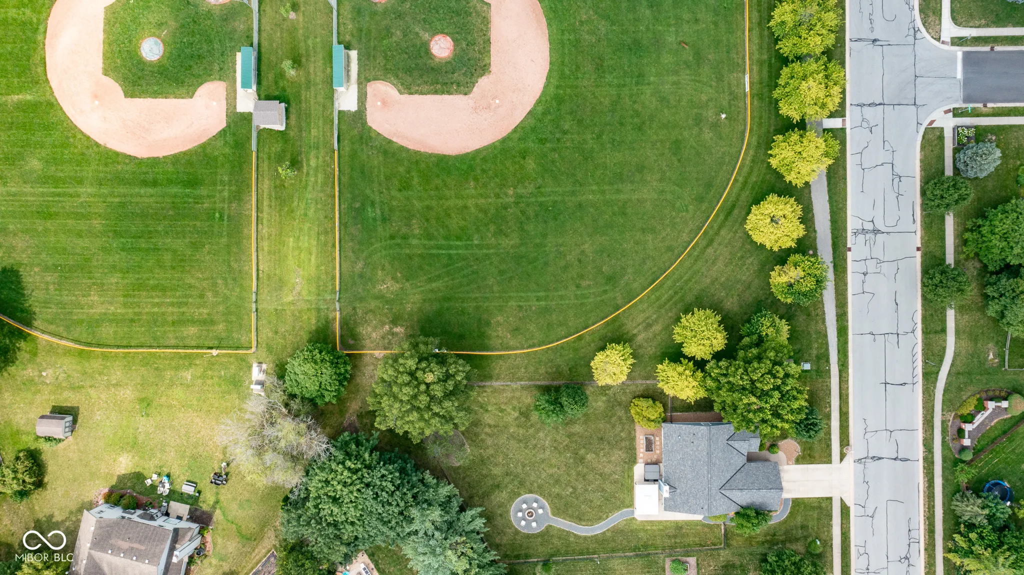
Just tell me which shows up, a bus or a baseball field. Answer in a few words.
baseball field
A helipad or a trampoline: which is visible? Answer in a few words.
trampoline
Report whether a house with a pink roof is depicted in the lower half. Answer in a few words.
No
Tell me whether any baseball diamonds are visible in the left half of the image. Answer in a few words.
Yes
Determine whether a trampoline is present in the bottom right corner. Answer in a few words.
Yes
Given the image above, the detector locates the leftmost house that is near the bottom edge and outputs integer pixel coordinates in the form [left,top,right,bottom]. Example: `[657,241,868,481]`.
[72,502,206,575]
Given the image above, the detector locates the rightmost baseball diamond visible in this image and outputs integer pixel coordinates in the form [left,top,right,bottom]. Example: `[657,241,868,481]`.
[338,0,748,352]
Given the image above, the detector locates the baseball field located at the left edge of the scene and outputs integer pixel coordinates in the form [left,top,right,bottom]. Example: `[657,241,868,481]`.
[0,0,257,350]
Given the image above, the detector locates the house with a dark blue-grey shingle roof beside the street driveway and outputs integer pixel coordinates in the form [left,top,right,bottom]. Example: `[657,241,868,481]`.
[655,422,783,516]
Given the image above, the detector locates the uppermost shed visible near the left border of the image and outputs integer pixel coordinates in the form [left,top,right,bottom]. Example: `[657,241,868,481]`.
[35,414,82,438]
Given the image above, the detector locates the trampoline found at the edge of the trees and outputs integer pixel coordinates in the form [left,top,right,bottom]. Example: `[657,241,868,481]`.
[984,476,1020,506]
